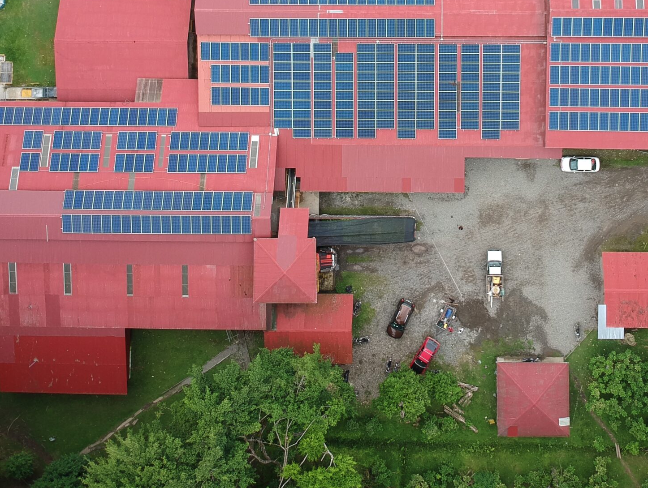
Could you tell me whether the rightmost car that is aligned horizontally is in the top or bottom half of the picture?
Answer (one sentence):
The rightmost car that is aligned horizontally is in the top half of the image.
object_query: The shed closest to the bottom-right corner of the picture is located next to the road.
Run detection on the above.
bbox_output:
[497,358,571,438]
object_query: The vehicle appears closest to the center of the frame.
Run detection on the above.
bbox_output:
[316,247,339,274]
